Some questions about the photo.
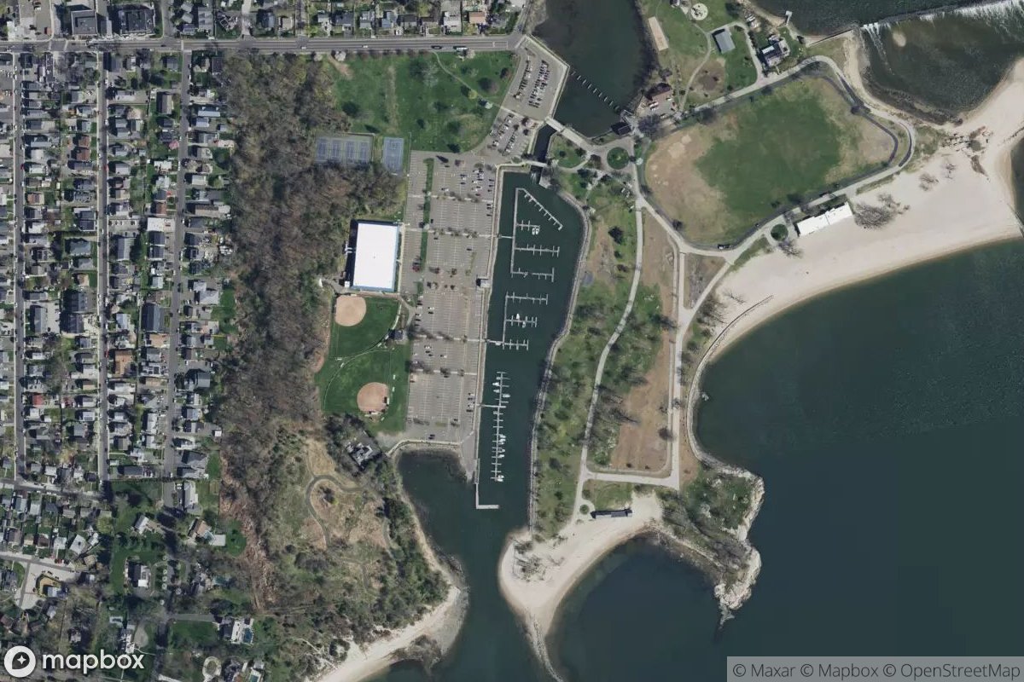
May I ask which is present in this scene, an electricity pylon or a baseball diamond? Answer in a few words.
baseball diamond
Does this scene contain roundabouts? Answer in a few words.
Yes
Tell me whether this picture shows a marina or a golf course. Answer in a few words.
marina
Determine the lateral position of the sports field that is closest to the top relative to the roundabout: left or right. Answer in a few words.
on its right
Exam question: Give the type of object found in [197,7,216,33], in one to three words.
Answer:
house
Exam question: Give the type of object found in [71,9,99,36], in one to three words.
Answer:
building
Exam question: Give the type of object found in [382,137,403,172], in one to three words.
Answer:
basketball court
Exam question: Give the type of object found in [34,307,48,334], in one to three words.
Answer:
house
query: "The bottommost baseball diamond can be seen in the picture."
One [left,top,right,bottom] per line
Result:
[325,345,409,426]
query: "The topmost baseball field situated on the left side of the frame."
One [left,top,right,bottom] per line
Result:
[328,294,401,358]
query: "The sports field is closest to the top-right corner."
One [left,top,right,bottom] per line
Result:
[645,77,893,241]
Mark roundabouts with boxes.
[582,133,642,201]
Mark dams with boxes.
[856,0,1016,28]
